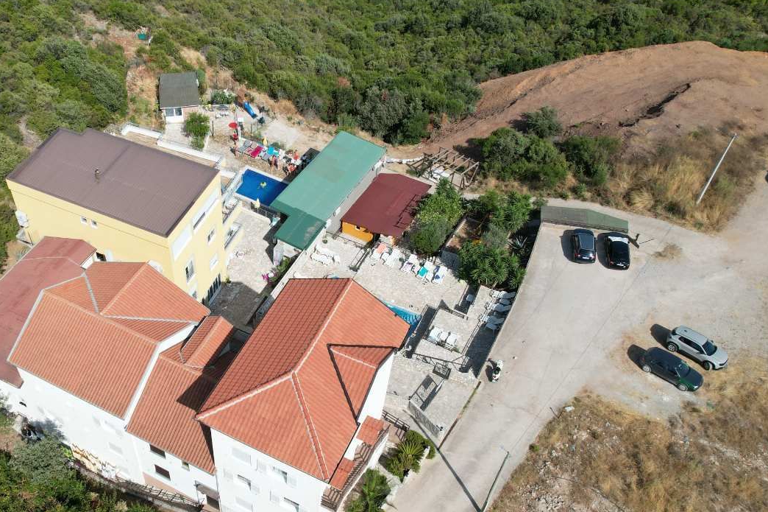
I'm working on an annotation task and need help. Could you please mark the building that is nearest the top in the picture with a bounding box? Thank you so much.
[160,71,199,125]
